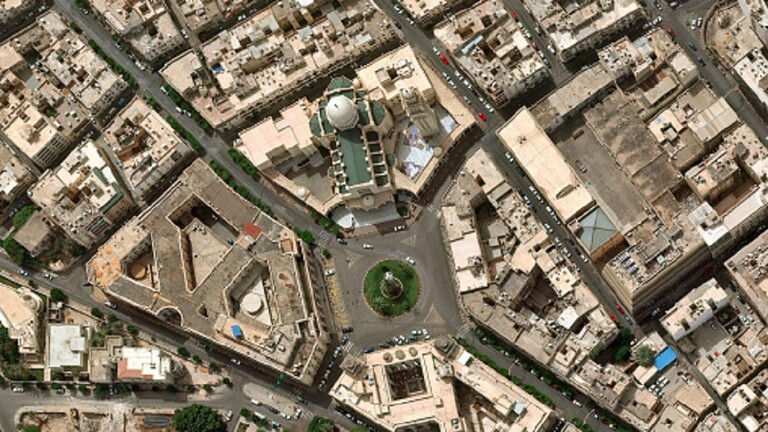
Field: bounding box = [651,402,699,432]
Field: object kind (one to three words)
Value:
building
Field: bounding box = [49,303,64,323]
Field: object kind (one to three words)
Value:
shed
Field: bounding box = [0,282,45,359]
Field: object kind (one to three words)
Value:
house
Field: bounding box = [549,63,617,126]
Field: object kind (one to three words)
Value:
building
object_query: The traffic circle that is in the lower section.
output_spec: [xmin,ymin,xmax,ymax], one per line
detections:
[363,258,421,316]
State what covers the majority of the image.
buildings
